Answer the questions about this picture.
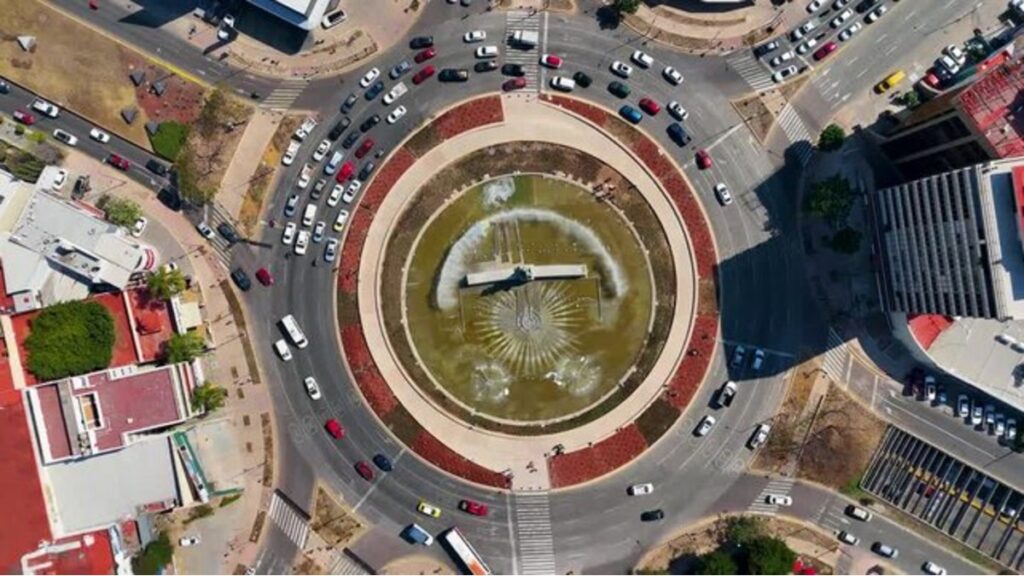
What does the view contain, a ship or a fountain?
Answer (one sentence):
Visible in the photo is a fountain.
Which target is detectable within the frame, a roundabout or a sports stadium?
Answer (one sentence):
The one in the frame is a roundabout.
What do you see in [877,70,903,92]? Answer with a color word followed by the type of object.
yellow truck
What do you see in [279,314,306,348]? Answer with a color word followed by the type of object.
white vehicle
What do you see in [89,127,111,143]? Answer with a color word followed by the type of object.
white car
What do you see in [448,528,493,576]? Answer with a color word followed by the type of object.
white bus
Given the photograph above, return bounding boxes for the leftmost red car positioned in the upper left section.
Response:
[12,108,36,126]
